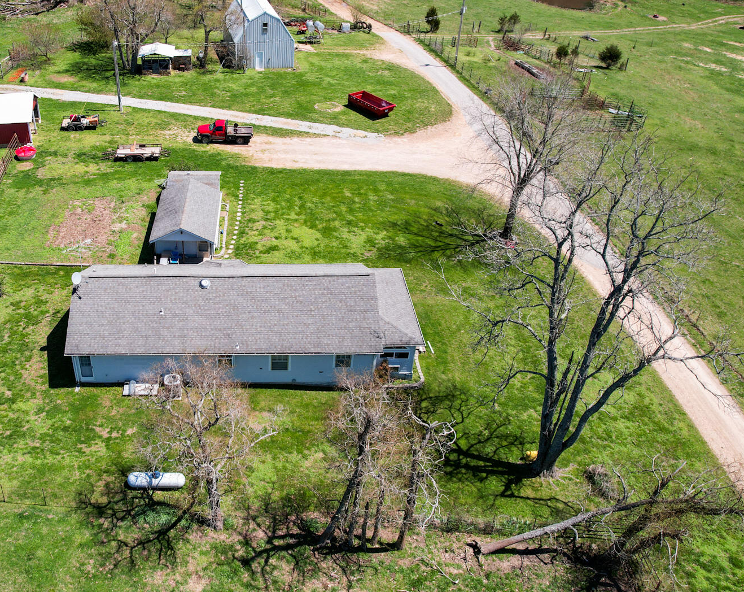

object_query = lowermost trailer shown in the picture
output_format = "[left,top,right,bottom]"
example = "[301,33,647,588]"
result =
[99,143,177,163]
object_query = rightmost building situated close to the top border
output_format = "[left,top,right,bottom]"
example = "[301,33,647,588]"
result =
[220,0,314,71]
